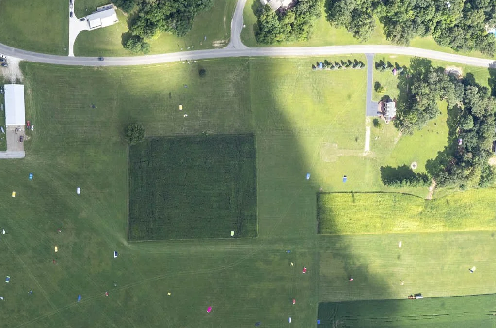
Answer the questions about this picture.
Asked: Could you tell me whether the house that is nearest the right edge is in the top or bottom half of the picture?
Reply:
top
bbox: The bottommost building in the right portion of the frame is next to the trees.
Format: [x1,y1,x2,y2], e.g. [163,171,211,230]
[371,99,395,121]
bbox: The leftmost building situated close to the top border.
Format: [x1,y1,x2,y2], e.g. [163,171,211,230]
[86,4,117,32]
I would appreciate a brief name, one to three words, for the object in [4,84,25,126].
hangar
